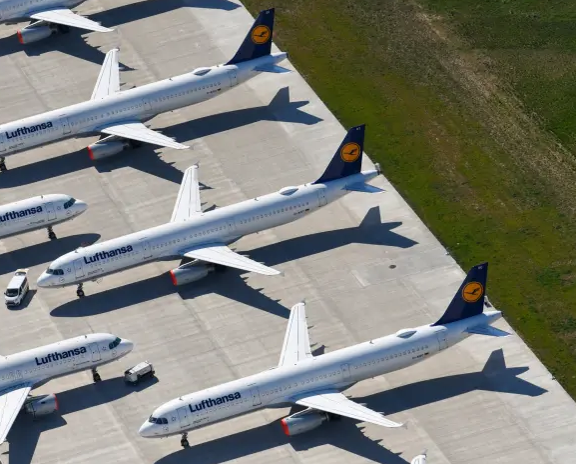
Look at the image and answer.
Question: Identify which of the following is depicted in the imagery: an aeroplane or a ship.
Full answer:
Of the two, only an aeroplane appears.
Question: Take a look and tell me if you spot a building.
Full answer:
No, I can't see a single building in this photo.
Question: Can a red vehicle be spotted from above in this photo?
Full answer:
No, I find no red vehicle anywhere in the image.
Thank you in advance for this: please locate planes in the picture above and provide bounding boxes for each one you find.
[0,0,119,44]
[0,334,133,445]
[36,125,387,296]
[0,8,295,170]
[0,193,88,241]
[140,263,512,446]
